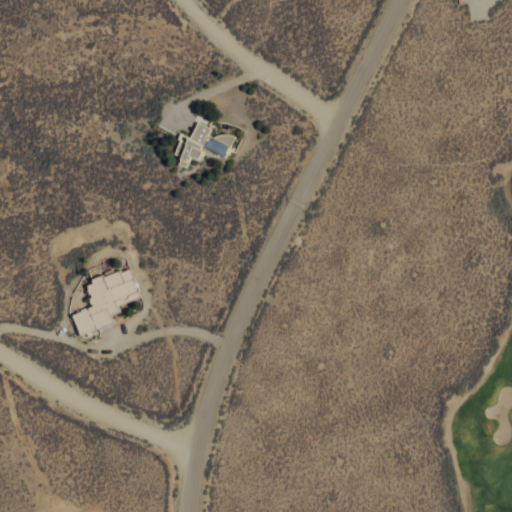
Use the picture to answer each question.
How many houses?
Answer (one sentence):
Looking from above, you can make out 2 houses.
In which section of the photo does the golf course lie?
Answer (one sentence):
You can find the golf course in the bottom right area of the picture.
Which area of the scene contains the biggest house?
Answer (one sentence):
You can find the biggest house in the left area of the picture.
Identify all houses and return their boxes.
[175,116,237,168]
[72,269,140,340]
